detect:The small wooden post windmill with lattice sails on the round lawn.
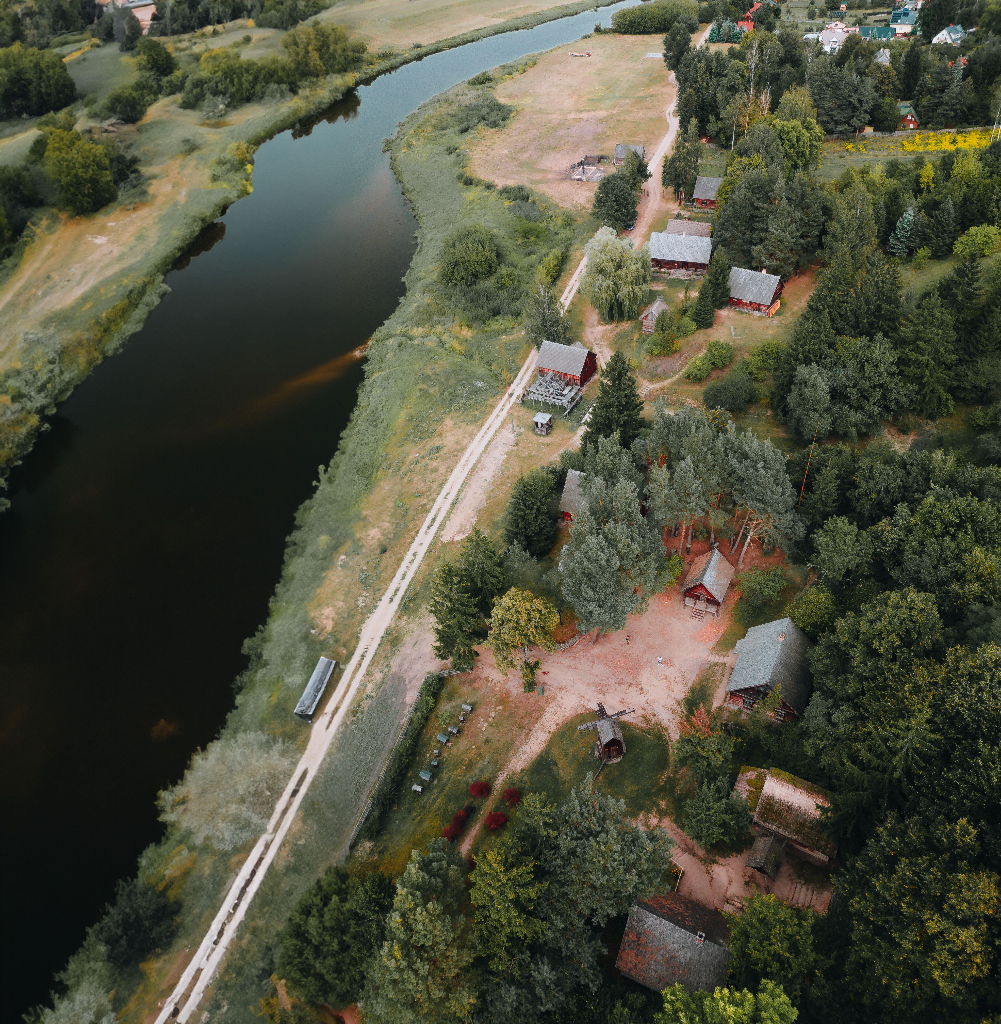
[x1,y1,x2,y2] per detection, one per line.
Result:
[576,701,634,787]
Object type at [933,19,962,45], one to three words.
house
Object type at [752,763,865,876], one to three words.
barn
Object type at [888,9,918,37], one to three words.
house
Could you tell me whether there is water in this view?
Yes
